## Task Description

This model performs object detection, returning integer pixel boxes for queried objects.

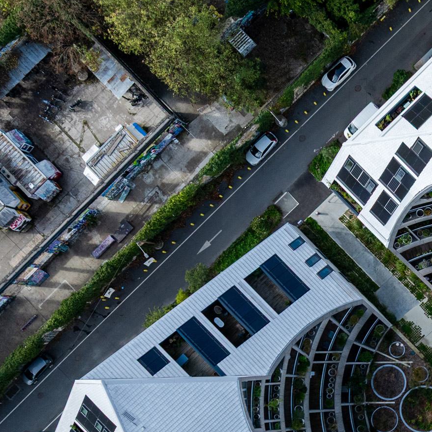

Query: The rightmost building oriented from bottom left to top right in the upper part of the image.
[82,123,151,186]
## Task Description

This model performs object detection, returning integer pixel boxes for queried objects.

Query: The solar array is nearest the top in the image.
[402,92,432,128]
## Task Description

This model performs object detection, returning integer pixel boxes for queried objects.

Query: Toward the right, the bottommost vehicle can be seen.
[244,131,281,166]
